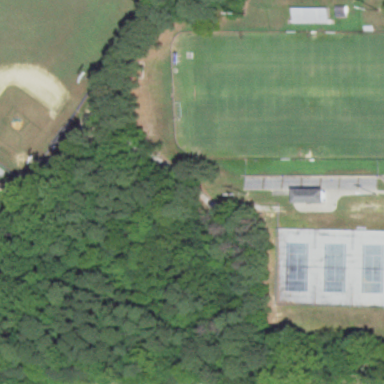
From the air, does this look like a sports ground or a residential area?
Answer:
sports ground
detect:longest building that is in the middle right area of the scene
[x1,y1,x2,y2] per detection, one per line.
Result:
[288,188,324,204]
